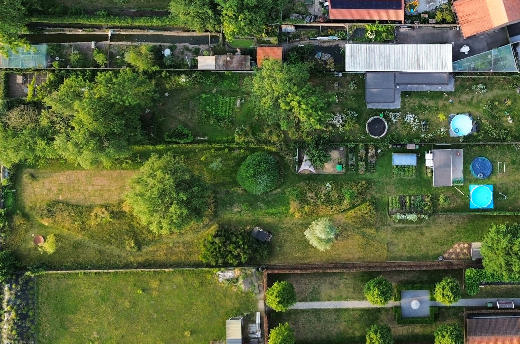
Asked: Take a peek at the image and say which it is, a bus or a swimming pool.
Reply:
swimming pool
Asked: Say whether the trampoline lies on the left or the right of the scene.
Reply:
right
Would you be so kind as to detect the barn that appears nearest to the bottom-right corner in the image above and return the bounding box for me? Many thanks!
[467,314,520,344]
